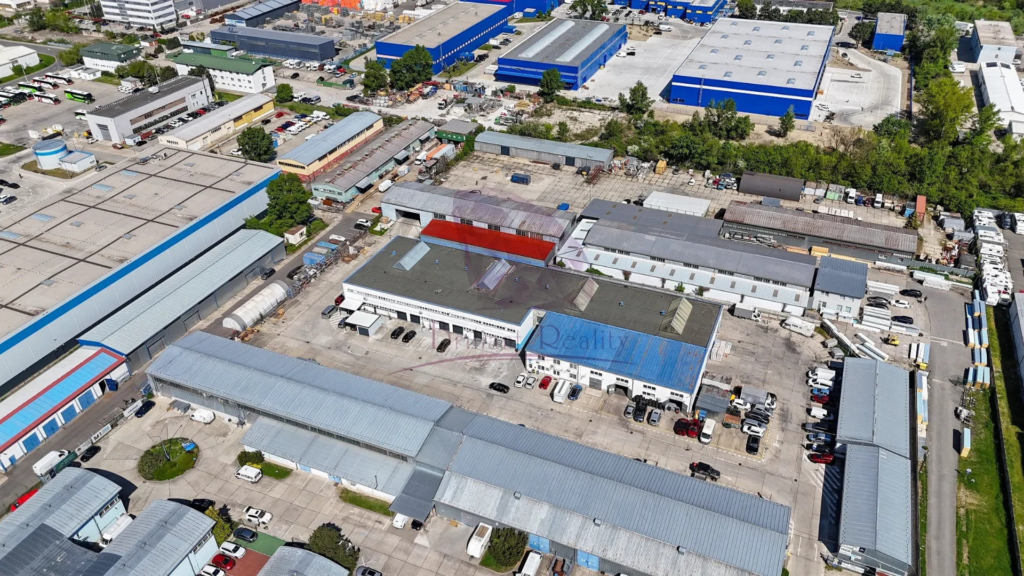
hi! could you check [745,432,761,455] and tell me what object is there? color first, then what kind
black car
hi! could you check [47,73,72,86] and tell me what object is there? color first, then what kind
white vehicle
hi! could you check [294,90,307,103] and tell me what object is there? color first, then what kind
white vehicle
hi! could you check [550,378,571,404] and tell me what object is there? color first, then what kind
white truck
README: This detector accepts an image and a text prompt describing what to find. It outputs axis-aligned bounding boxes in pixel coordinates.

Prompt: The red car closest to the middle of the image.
[536,374,552,391]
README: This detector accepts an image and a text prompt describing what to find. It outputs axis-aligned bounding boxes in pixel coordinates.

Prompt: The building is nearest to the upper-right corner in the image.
[971,19,1019,64]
